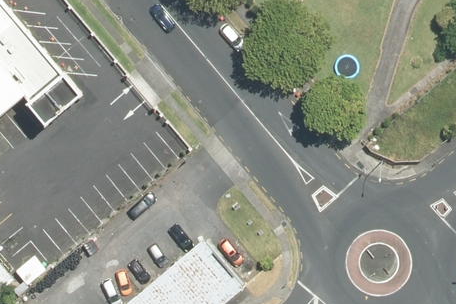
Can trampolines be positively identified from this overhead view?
Yes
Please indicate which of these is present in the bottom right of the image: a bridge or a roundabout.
roundabout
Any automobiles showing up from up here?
Yes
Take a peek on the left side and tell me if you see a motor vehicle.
Yes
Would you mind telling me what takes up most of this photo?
paved ground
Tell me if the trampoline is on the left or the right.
right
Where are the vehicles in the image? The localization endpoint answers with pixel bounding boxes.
[218,238,244,267]
[128,258,151,284]
[149,3,176,34]
[102,279,122,304]
[127,192,156,220]
[116,268,133,296]
[168,224,194,252]
[219,22,244,52]
[147,242,170,268]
